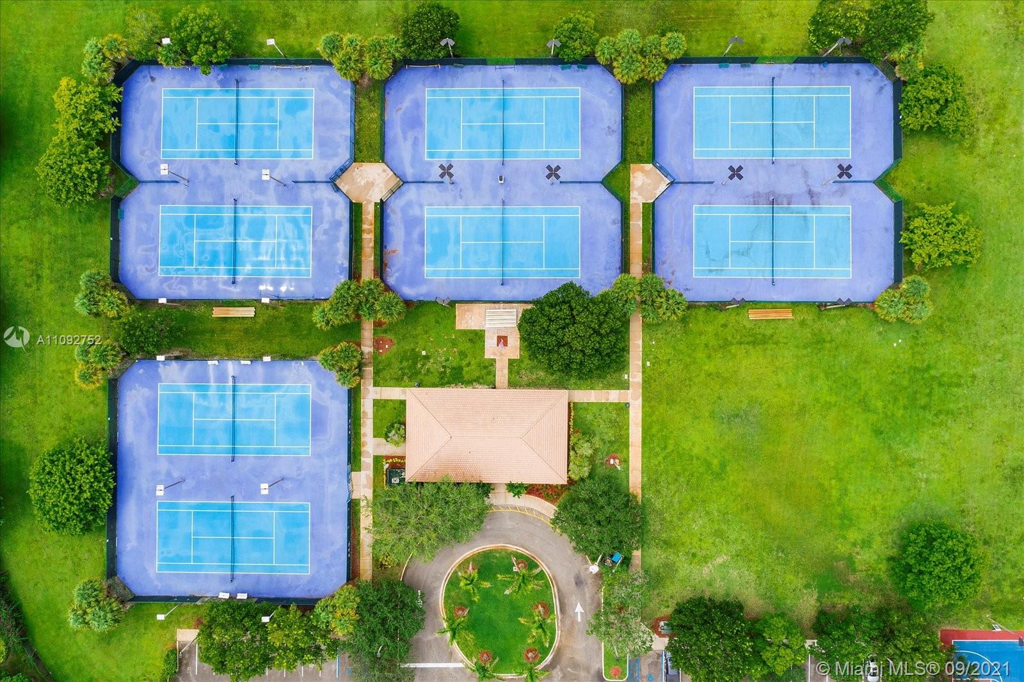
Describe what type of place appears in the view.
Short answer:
sports ground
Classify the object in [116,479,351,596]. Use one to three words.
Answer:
tennis court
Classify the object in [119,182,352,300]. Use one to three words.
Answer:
tennis court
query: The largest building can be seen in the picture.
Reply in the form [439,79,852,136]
[405,388,569,484]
